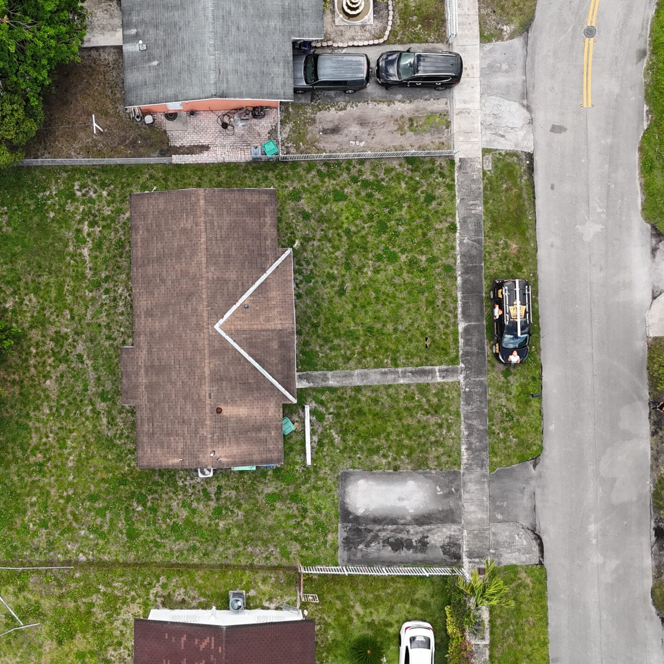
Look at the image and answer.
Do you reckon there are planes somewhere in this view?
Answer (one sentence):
No, there's no plane here.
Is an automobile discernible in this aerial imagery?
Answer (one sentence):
Yes, there's an automobile down there.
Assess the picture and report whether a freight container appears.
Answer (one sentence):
No, the scene contains no freight container.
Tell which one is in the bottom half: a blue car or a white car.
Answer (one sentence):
There is a white car in the bottom half.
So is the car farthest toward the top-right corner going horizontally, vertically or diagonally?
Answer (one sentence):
In this picture, the car farthest toward the top-right corner is oriented horizontally.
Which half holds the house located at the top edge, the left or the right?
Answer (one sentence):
The house located at the top edge sits on the left side.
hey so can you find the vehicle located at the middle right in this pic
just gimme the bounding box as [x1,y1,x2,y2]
[493,280,539,363]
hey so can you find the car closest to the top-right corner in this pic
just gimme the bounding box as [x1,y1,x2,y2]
[375,46,462,91]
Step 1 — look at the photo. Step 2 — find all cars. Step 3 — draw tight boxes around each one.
[402,625,436,664]
[493,280,539,363]
[375,46,462,91]
[293,49,370,91]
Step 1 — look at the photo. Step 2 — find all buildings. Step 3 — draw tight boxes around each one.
[133,611,315,664]
[122,0,324,114]
[120,187,297,469]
